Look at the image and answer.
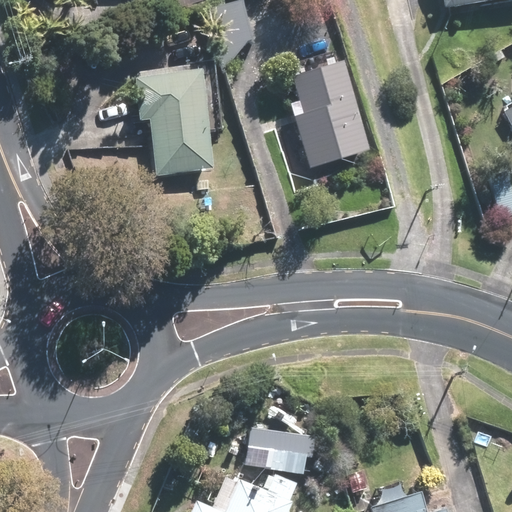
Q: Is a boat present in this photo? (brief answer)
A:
Yes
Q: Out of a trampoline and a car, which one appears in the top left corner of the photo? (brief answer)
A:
car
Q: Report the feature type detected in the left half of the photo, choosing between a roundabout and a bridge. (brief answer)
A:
roundabout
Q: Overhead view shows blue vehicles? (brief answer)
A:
Yes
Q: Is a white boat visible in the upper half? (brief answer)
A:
No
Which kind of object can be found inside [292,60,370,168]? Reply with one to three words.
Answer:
house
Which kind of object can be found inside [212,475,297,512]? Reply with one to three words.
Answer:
house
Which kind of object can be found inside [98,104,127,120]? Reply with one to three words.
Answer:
car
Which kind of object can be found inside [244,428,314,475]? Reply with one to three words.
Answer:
shed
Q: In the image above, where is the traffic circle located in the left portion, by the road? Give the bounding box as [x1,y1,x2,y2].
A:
[47,306,139,398]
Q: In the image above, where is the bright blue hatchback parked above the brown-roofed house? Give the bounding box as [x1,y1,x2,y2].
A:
[298,40,328,58]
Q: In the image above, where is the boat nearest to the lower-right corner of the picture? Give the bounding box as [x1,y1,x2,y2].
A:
[266,406,306,436]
